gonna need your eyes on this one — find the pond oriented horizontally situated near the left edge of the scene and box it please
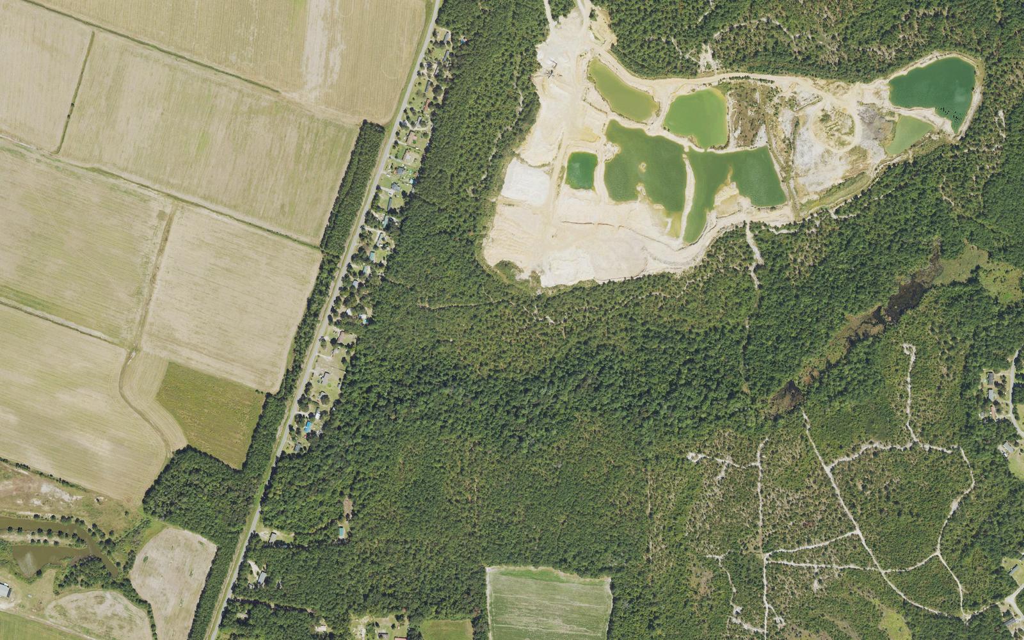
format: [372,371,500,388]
[0,516,117,575]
